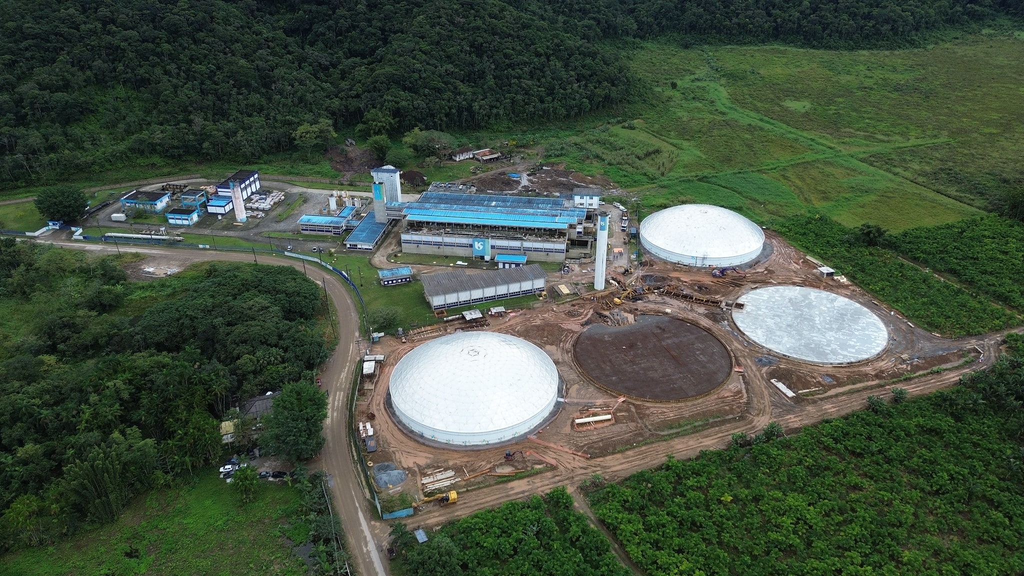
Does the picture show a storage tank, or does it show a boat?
storage tank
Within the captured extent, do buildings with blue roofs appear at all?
Yes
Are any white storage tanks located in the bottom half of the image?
Yes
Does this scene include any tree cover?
Yes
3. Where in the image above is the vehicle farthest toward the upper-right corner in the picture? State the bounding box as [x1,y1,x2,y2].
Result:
[713,263,747,277]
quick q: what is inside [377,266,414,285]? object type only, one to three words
shed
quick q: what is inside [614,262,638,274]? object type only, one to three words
vehicle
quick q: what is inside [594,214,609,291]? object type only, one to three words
water tower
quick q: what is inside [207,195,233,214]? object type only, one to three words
building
